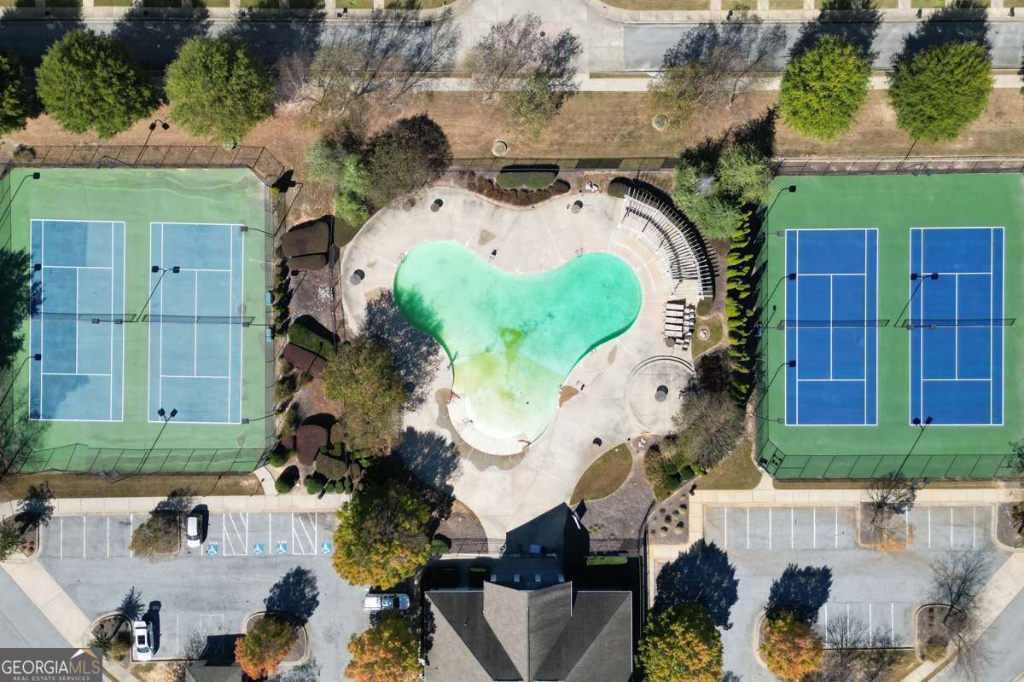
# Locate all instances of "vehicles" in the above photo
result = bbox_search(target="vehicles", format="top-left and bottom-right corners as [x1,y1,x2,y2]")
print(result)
[184,511,205,548]
[134,619,156,661]
[364,591,411,613]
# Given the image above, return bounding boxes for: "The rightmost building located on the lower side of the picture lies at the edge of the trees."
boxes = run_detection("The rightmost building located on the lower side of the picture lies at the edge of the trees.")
[426,574,632,682]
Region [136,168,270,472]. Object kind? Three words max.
tennis court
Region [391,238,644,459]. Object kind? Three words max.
swimming pool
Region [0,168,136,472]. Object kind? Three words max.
tennis court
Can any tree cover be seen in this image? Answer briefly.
Yes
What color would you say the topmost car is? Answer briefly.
white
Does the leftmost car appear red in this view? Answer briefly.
No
